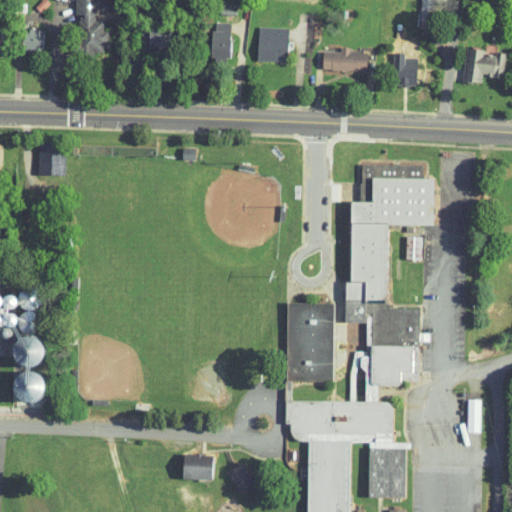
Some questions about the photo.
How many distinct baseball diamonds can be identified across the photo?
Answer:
2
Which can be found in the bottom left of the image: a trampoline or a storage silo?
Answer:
storage silo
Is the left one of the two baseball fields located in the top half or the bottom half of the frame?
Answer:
bottom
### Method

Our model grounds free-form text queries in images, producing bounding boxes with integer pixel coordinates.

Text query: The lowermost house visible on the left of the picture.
[184,455,216,482]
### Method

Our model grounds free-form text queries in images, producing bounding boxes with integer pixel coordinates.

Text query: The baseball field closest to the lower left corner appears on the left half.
[79,334,144,400]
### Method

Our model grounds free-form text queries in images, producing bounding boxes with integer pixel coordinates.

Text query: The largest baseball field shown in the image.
[80,158,284,412]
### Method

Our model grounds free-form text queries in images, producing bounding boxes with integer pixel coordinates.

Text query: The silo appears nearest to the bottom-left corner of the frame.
[12,371,45,404]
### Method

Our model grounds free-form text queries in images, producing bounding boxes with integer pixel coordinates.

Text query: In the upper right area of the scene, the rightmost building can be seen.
[464,44,506,83]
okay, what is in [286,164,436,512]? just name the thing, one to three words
building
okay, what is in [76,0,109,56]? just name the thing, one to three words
house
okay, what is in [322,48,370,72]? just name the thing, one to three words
house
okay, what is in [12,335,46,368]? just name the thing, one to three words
silo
